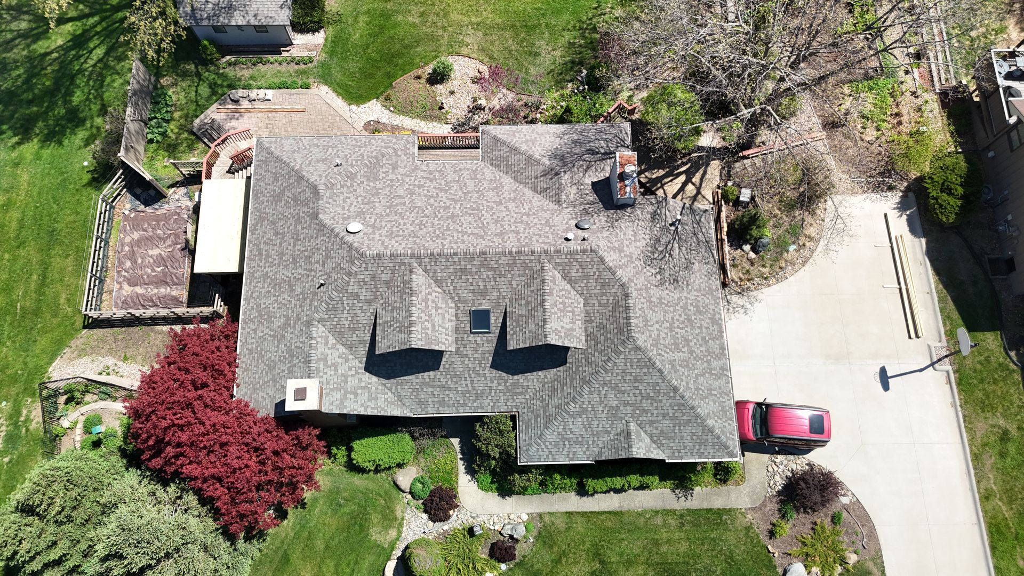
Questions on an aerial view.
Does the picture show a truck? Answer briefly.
No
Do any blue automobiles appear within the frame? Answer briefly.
No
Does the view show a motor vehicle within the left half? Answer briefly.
No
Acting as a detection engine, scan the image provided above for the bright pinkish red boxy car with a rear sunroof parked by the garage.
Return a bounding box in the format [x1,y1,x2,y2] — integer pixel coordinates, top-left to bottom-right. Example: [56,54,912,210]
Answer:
[736,395,833,450]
